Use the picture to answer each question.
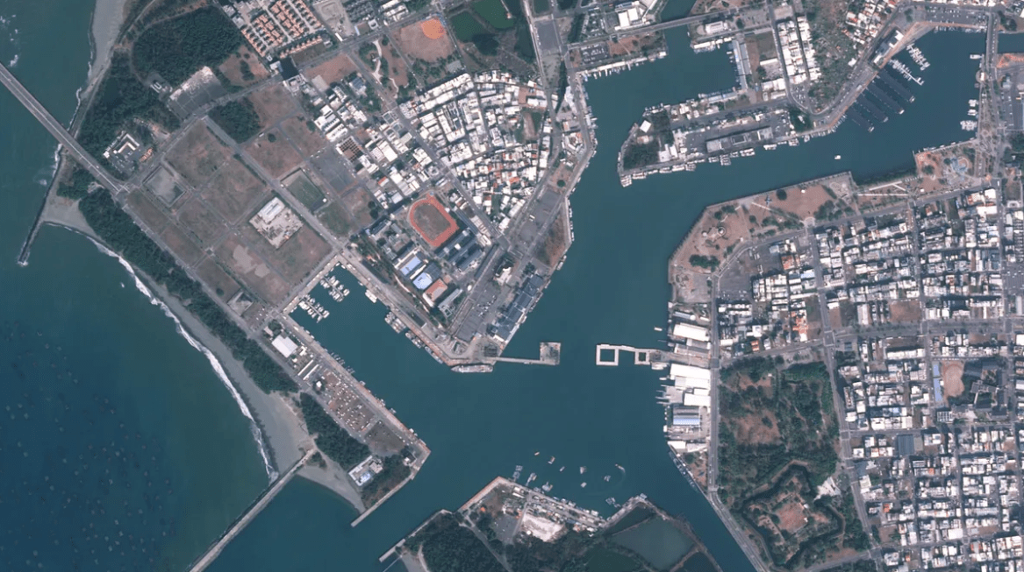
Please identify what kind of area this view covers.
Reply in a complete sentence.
It's a residential area.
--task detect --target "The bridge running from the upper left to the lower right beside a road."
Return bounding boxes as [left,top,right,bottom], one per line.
[0,64,124,191]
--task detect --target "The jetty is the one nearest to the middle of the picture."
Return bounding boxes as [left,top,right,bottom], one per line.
[493,343,561,365]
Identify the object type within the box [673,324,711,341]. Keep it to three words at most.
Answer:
building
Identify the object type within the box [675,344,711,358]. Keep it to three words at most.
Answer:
building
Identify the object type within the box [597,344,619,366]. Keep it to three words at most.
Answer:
pier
